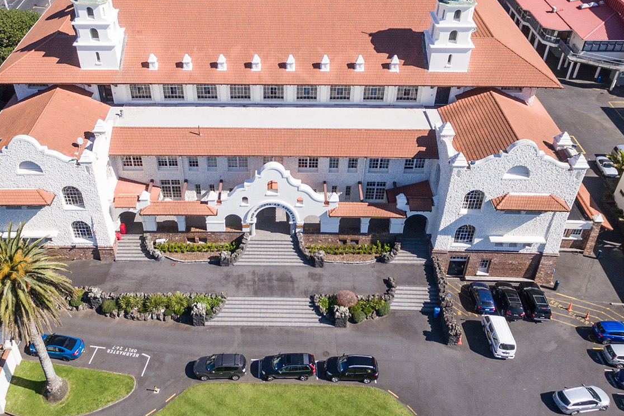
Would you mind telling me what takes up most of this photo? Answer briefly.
buildings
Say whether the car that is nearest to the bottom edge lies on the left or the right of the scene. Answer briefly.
right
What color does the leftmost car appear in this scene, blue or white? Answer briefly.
blue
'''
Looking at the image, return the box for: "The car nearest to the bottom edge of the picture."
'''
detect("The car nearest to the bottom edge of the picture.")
[557,384,614,416]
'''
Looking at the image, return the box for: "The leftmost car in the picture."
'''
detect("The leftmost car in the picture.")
[36,334,83,366]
